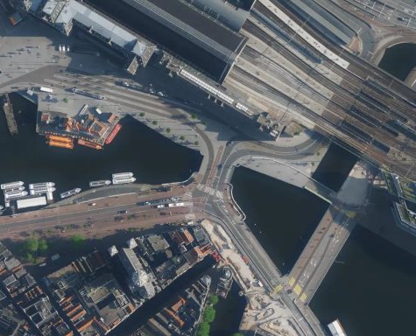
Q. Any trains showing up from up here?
Yes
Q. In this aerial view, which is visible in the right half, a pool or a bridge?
bridge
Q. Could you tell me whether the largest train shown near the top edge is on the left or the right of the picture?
right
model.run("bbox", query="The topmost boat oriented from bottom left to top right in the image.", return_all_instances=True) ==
[106,124,123,143]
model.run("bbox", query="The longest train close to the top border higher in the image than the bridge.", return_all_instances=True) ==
[253,12,321,61]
